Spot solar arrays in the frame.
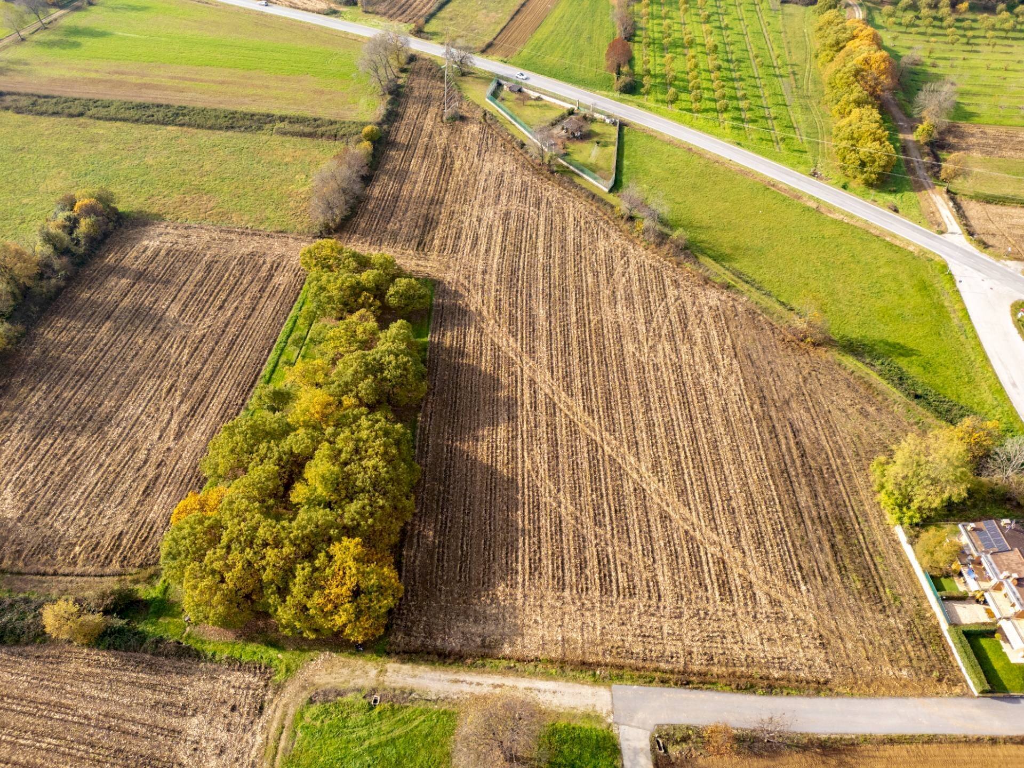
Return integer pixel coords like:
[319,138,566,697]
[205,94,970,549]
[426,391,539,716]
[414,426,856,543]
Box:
[978,520,1008,550]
